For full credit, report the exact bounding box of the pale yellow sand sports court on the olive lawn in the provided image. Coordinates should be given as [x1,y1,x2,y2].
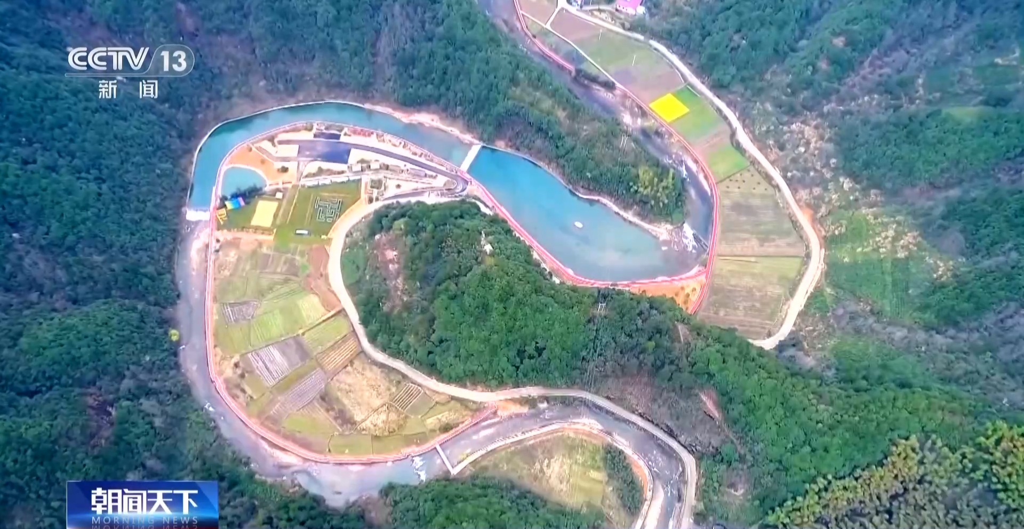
[251,200,279,227]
